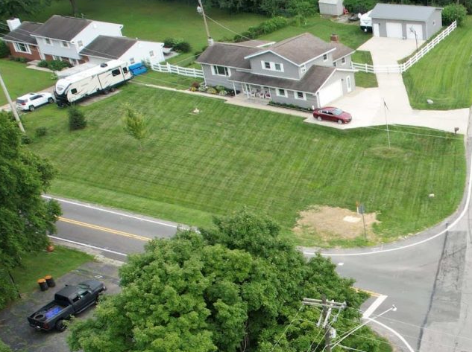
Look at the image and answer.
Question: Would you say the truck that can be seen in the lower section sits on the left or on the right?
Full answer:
You can find the truck that can be seen in the lower section on the left side of the picture.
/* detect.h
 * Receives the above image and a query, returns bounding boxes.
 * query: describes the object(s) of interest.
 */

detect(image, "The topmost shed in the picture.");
[316,0,342,15]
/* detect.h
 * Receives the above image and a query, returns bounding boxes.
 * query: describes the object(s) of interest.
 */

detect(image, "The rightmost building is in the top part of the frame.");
[368,5,437,40]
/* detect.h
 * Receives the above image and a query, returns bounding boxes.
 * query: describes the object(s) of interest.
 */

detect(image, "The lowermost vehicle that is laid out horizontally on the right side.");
[309,105,354,125]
